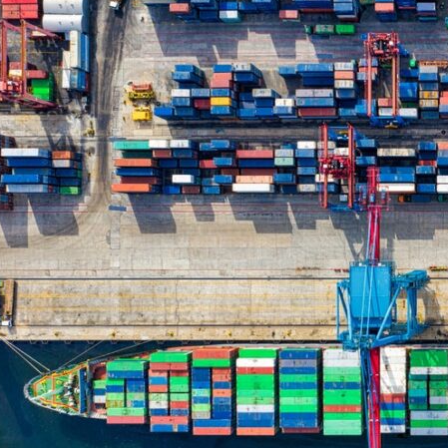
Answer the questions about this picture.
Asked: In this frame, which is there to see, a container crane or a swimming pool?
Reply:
container crane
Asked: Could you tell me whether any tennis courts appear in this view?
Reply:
No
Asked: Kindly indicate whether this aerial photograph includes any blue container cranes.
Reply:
Yes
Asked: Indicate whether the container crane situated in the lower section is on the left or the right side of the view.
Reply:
right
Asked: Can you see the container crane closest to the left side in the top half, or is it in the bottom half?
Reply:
top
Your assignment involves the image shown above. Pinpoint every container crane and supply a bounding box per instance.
[2,17,78,113]
[320,120,372,217]
[361,30,408,132]
[336,168,430,448]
